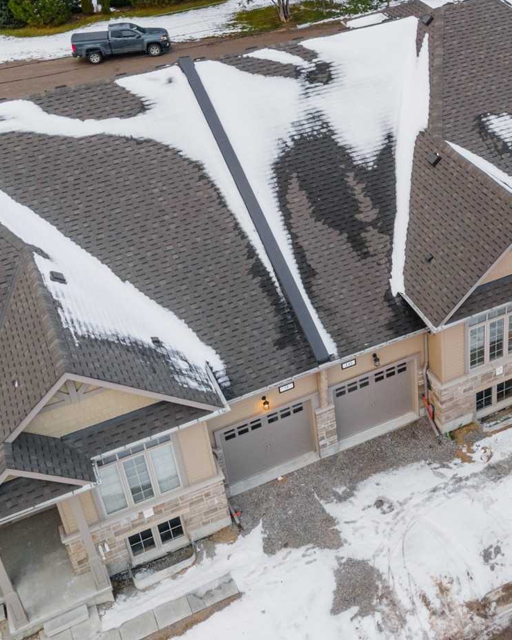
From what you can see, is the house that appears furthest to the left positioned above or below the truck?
below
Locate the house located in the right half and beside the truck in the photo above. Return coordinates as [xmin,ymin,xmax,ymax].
[173,0,512,452]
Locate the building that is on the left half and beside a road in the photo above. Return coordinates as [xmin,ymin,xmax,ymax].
[0,64,340,640]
